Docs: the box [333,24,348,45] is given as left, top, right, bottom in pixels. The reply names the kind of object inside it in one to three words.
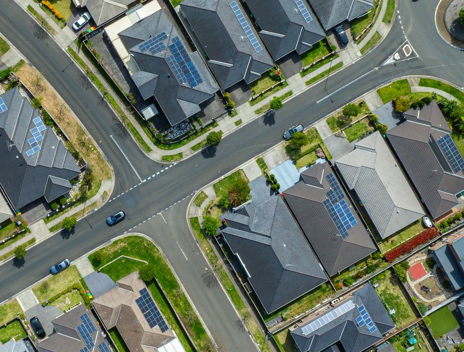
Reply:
car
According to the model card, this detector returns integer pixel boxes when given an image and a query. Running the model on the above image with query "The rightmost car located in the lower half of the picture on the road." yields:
[105,210,127,226]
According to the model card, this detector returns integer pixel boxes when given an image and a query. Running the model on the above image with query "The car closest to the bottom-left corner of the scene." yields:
[29,317,45,338]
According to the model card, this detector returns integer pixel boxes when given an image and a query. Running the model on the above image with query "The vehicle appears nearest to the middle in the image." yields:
[282,124,304,140]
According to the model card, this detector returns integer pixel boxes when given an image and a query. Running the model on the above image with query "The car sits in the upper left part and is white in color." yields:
[71,12,91,29]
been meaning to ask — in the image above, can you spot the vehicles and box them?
[71,12,91,29]
[333,24,348,45]
[50,258,71,273]
[29,317,45,338]
[282,124,304,140]
[105,210,127,226]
